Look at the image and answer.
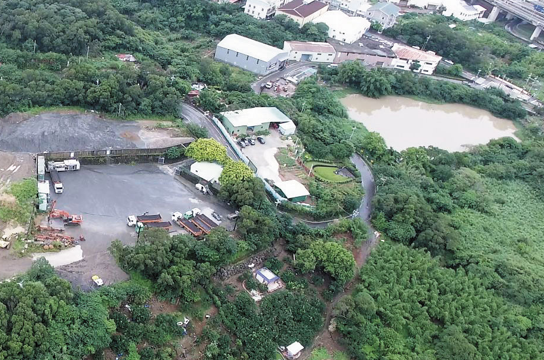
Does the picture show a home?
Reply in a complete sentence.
Yes, there's a home down there.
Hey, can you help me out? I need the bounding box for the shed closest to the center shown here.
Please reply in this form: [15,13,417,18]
[271,179,312,204]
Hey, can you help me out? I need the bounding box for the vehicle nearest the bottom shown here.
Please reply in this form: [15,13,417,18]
[90,272,105,284]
